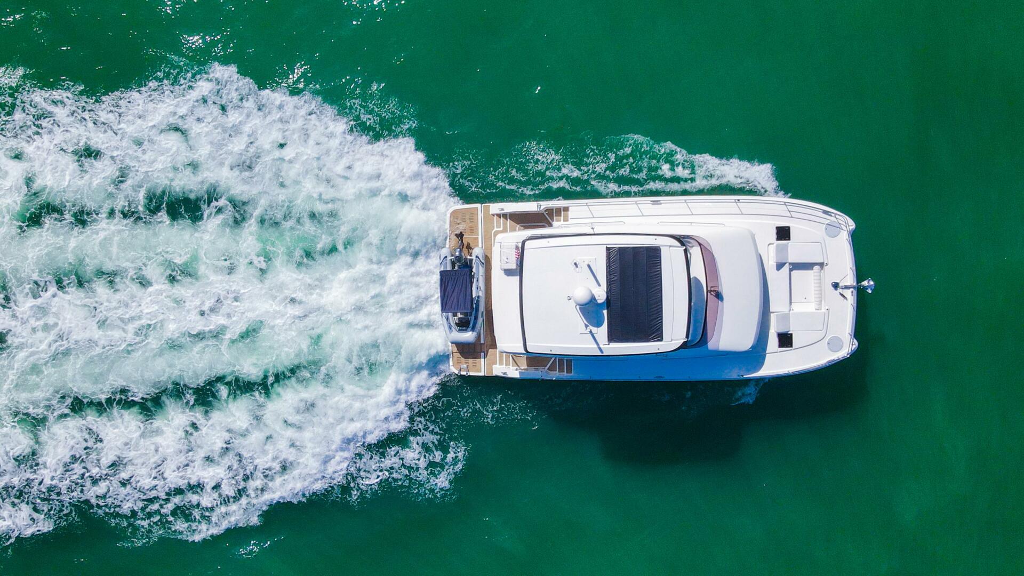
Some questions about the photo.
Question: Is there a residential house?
No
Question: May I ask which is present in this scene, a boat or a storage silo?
boat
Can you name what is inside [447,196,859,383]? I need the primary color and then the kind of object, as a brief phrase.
white boat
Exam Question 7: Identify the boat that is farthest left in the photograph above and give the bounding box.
[440,231,484,344]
